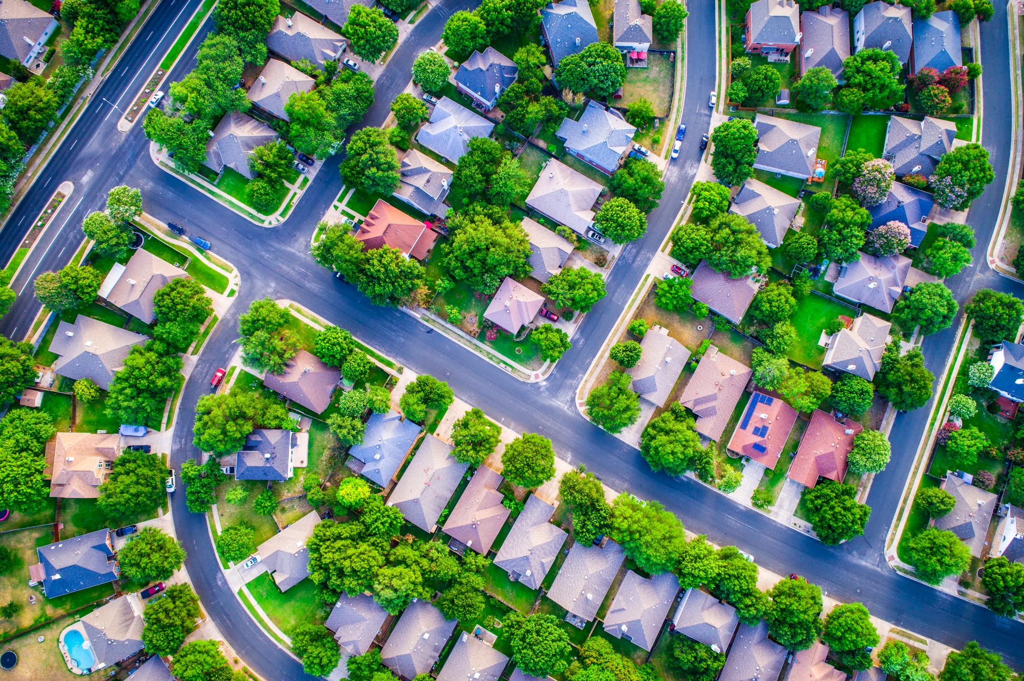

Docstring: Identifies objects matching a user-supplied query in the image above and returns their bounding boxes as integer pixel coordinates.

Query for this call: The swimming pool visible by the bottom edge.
[59,622,100,675]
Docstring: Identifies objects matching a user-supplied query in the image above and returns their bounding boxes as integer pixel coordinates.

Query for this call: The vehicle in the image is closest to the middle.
[539,307,559,322]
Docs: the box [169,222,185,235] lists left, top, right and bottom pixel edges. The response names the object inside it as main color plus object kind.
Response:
blue vehicle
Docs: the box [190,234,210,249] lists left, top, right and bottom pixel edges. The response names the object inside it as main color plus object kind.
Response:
blue vehicle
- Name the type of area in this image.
residential area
